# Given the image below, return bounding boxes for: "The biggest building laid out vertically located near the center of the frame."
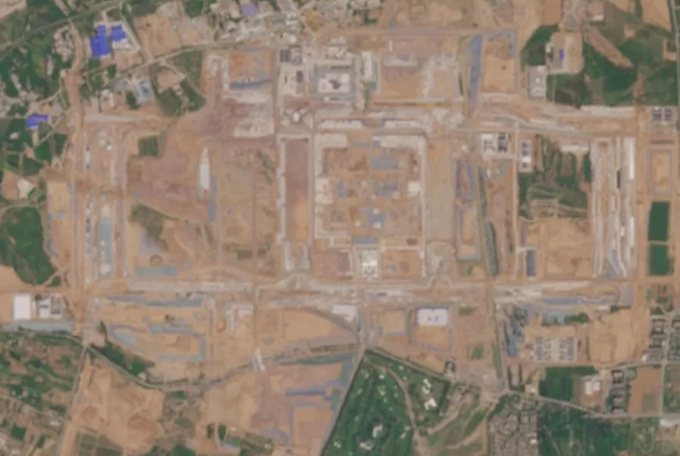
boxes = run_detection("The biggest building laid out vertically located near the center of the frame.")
[373,135,427,274]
